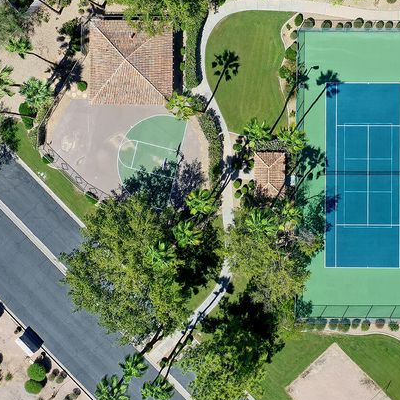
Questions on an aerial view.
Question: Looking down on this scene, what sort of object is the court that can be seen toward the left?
basketball court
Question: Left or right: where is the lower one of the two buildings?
right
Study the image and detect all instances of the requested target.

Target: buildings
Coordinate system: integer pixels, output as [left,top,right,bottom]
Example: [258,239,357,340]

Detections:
[89,19,174,106]
[253,151,286,196]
